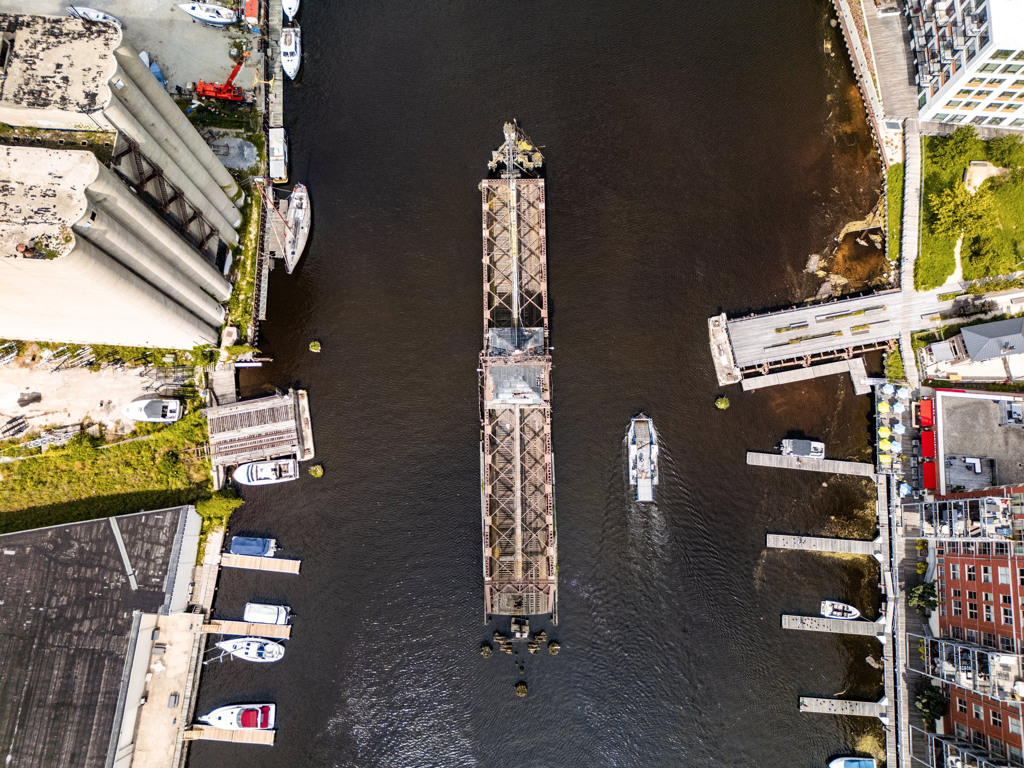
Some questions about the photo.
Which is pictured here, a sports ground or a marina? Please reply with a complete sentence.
This looks like a marina.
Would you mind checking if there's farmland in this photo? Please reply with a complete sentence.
No, the scene doesn't show any farmland.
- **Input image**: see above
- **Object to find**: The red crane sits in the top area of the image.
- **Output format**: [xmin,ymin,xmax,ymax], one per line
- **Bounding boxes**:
[194,50,250,107]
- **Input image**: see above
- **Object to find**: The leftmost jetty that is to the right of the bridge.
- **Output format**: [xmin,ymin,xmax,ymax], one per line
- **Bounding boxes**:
[704,313,742,388]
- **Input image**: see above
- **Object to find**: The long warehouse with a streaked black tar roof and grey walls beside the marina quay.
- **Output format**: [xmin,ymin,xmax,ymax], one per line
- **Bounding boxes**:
[0,505,202,768]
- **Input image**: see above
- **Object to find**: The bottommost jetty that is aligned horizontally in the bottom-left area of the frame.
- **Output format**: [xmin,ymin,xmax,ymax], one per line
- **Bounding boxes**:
[195,723,277,747]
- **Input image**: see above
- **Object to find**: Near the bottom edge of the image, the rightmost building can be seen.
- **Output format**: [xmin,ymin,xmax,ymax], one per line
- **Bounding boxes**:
[904,478,1024,768]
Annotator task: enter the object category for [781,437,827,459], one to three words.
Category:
boat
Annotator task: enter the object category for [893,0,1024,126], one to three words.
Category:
building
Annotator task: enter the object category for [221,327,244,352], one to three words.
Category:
shed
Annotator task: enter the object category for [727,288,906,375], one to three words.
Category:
pier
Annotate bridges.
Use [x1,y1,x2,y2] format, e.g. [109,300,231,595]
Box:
[475,142,558,637]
